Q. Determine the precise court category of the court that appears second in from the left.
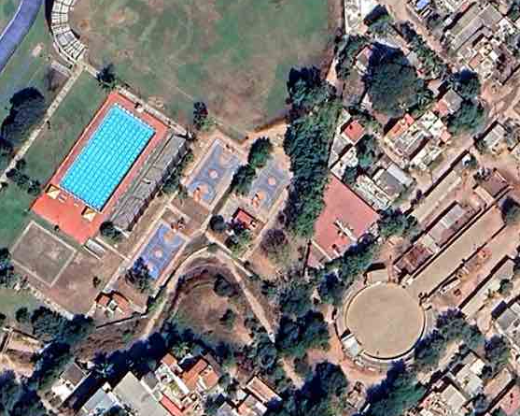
basketball court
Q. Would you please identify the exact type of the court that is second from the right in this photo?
basketball court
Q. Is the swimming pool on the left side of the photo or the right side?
left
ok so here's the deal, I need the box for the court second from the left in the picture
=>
[126,213,194,289]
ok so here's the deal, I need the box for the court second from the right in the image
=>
[237,147,298,223]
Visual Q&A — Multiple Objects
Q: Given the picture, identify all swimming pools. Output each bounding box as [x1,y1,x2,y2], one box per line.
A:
[30,90,167,244]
